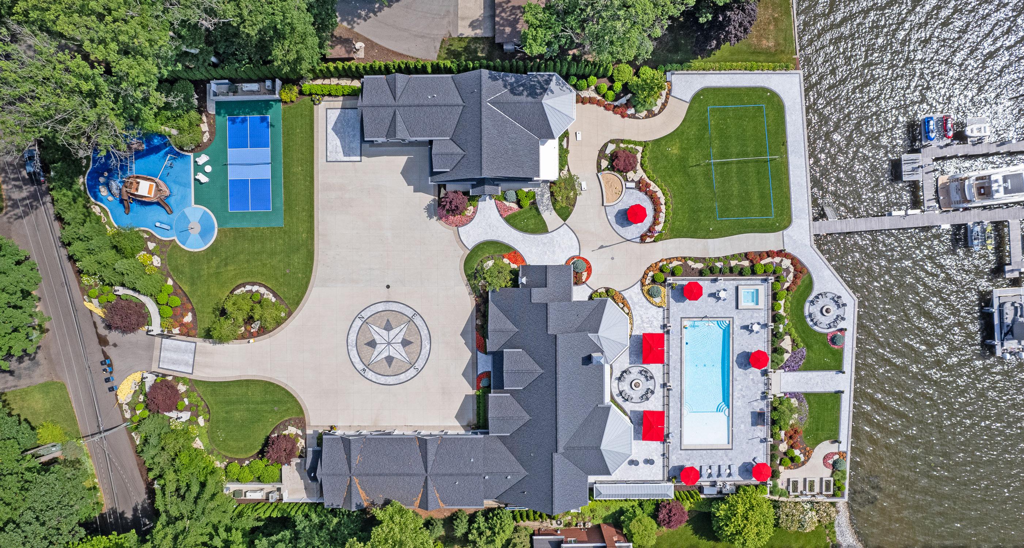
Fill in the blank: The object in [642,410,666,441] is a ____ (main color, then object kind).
red umbrella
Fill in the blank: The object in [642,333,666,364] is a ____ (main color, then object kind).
red umbrella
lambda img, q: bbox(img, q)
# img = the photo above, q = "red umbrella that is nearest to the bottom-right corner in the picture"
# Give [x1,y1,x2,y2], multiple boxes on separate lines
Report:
[752,462,770,480]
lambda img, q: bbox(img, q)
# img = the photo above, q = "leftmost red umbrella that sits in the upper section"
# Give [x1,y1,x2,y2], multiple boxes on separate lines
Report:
[627,204,646,223]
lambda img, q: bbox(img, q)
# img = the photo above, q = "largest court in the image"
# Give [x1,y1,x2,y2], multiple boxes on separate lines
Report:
[194,99,284,228]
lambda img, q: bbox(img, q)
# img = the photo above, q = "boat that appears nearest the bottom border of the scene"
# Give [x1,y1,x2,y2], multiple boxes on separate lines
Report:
[1002,301,1024,355]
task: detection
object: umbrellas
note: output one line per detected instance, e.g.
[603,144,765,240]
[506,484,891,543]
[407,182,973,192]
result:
[683,282,702,300]
[748,349,769,370]
[752,462,770,480]
[642,333,666,364]
[627,204,646,223]
[642,410,666,441]
[680,465,699,485]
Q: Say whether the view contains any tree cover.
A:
Yes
